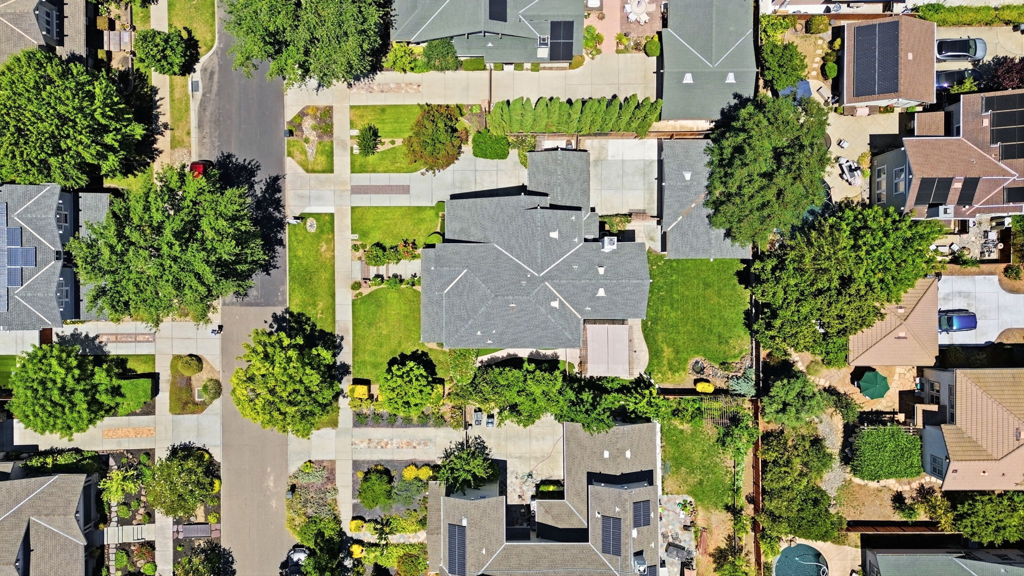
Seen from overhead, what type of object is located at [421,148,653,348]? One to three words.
house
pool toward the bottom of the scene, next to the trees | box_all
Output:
[773,544,829,576]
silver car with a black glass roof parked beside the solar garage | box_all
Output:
[937,38,986,64]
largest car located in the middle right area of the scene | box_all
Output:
[938,308,983,333]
